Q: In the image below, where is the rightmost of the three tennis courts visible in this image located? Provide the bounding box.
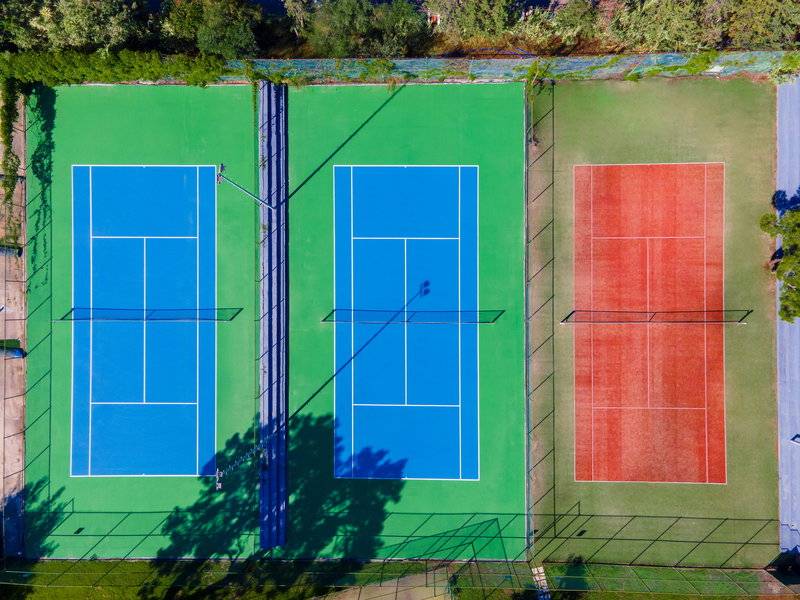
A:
[530,80,777,569]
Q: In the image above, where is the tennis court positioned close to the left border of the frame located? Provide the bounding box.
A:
[25,86,262,559]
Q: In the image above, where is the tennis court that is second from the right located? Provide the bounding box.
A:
[262,82,525,559]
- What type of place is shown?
sports ground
